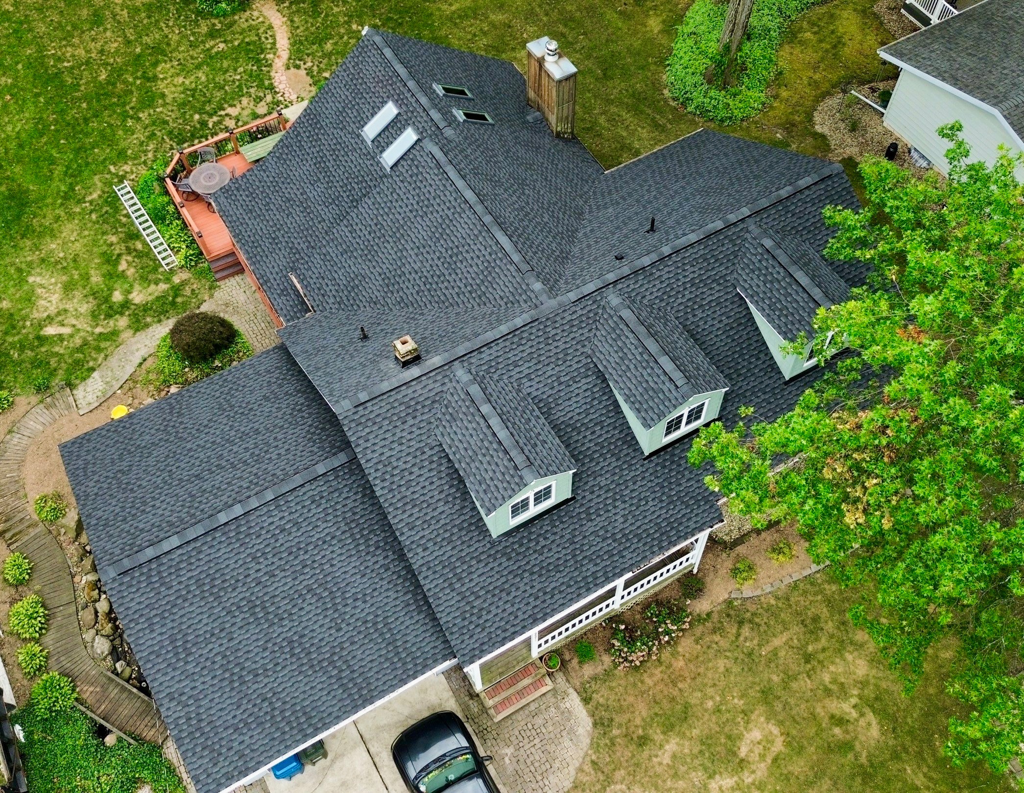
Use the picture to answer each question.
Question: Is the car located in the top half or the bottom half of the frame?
bottom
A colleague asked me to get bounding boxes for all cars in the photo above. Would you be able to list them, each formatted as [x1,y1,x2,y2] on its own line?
[395,715,496,793]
